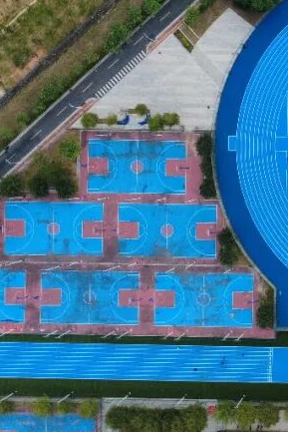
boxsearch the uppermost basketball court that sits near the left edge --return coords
[4,203,103,255]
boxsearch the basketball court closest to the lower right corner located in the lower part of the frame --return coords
[155,272,253,328]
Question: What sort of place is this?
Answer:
sports ground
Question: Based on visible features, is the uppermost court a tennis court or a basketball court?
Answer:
basketball court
